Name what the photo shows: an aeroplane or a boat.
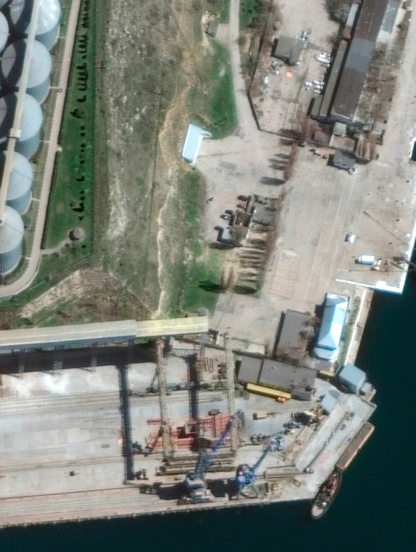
boat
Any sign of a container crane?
Yes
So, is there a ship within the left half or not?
No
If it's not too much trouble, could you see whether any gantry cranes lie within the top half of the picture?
No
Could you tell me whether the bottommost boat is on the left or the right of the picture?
right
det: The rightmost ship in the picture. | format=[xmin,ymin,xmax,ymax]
[336,420,374,472]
